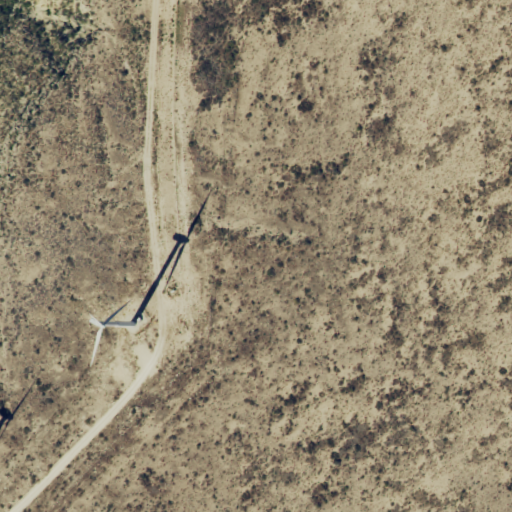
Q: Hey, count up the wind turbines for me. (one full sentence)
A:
In total, there is 1 wind turbine in the scene.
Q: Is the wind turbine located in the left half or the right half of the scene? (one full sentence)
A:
It is on the left.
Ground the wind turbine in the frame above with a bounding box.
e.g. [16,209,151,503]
[90,300,138,366]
